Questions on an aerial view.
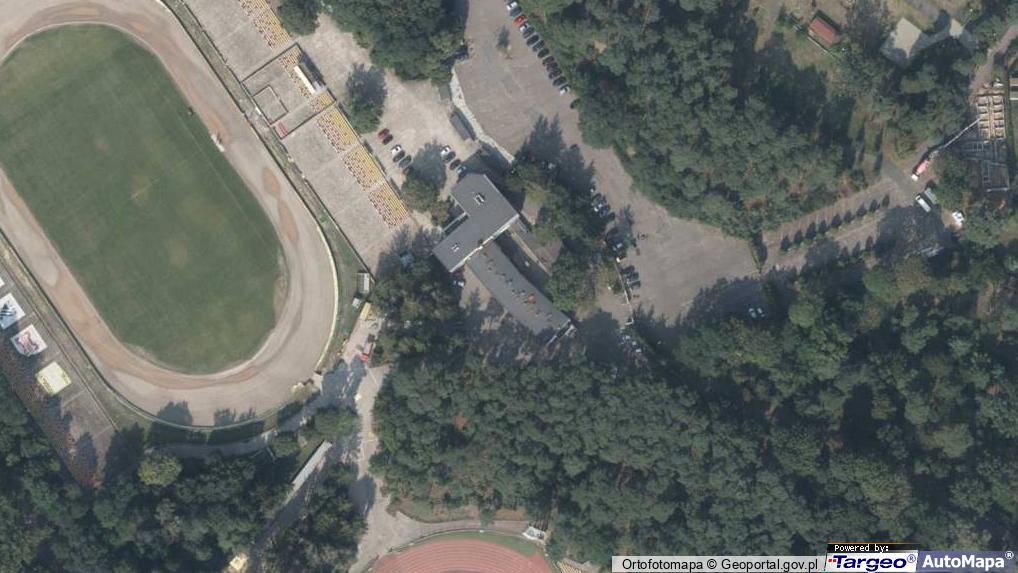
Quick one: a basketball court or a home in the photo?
home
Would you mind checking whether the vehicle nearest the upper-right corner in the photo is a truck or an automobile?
truck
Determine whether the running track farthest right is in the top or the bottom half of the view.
bottom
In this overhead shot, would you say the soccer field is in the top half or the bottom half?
top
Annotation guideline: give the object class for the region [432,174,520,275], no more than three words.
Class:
building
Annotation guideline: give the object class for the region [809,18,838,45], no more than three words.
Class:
house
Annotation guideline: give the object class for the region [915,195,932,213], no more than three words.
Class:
vehicle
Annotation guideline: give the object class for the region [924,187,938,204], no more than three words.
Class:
vehicle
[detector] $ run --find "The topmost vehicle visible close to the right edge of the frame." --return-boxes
[912,116,981,180]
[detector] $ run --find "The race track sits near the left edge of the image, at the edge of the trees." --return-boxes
[0,0,336,426]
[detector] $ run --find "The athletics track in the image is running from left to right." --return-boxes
[375,531,557,573]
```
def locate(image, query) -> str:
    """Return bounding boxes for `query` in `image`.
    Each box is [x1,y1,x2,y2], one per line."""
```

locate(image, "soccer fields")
[0,22,286,374]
